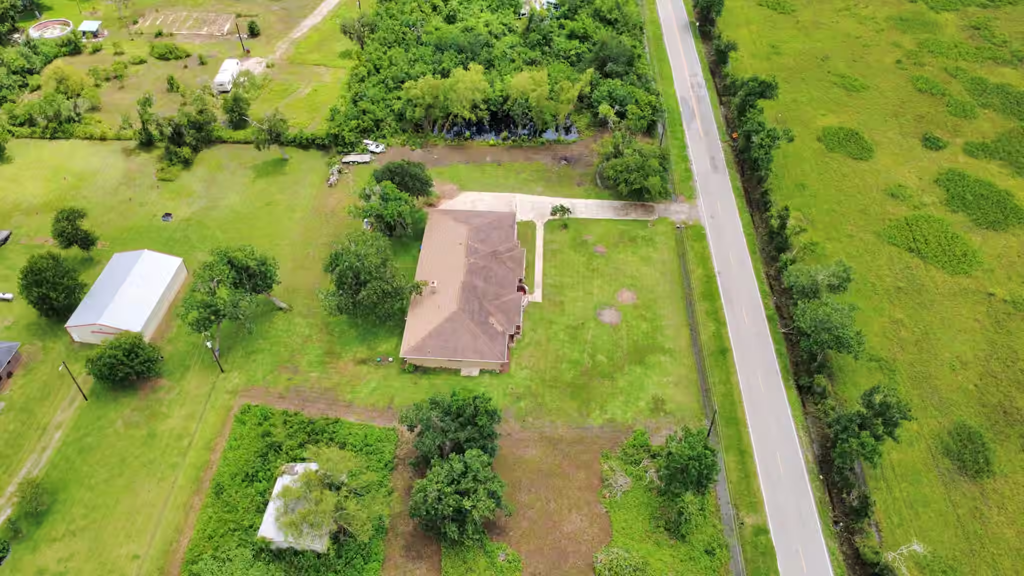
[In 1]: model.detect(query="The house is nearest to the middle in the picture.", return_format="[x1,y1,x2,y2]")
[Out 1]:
[399,209,530,370]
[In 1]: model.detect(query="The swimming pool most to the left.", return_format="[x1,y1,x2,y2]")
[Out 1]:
[23,16,74,42]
